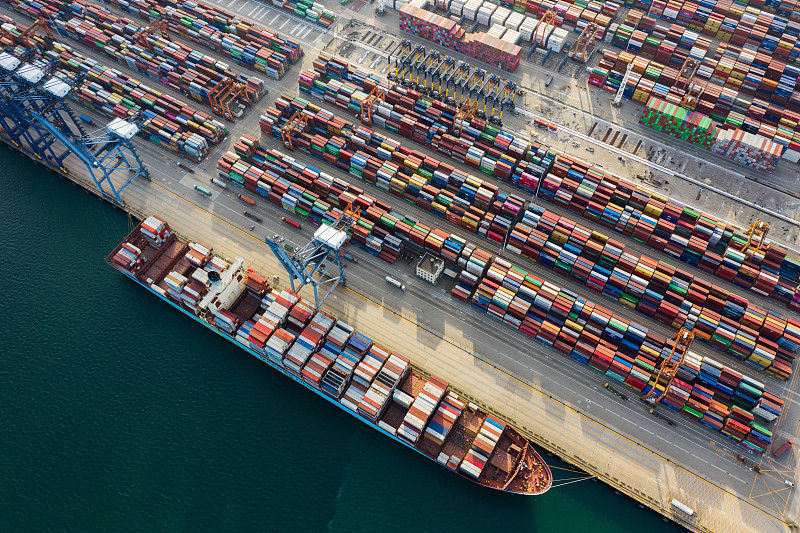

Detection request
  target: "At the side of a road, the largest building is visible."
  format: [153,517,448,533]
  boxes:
[417,250,445,284]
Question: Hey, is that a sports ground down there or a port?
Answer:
port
